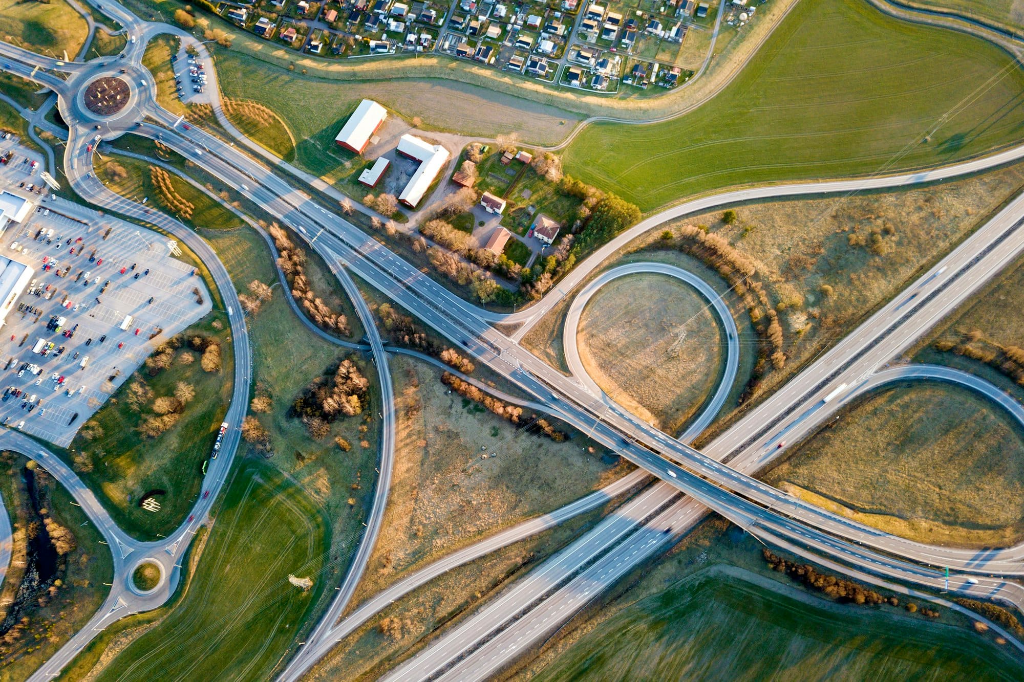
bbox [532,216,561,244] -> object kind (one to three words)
house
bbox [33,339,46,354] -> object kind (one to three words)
vehicle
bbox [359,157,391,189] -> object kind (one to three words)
shed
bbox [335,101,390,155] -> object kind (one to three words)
barn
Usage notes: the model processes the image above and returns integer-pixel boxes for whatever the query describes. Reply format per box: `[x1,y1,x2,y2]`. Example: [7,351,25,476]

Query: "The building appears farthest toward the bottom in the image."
[0,254,35,326]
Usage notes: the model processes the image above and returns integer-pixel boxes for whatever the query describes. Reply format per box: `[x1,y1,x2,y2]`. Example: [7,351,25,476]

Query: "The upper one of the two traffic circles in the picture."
[59,40,155,152]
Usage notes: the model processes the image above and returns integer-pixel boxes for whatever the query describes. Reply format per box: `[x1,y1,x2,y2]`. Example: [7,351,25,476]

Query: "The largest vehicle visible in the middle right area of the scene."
[821,383,846,403]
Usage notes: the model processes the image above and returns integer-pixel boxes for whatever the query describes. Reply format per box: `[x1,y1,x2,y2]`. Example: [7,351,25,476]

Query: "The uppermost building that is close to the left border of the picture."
[0,189,34,242]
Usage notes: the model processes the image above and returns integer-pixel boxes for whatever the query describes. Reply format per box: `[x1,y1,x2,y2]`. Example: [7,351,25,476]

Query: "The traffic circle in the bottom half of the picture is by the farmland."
[92,520,195,630]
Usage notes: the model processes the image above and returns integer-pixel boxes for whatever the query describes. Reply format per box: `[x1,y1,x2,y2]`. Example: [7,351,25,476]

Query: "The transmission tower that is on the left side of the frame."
[289,569,313,594]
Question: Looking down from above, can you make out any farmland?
Yes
